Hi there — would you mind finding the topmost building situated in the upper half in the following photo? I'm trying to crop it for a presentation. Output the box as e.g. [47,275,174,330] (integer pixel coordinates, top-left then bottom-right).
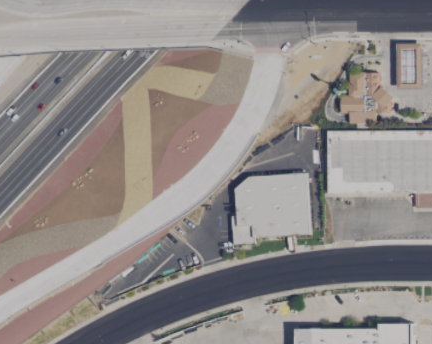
[397,45,422,89]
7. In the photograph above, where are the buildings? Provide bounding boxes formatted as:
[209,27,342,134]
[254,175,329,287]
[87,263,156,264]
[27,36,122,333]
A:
[235,174,314,240]
[294,322,418,344]
[328,131,432,196]
[341,74,394,129]
[397,45,422,89]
